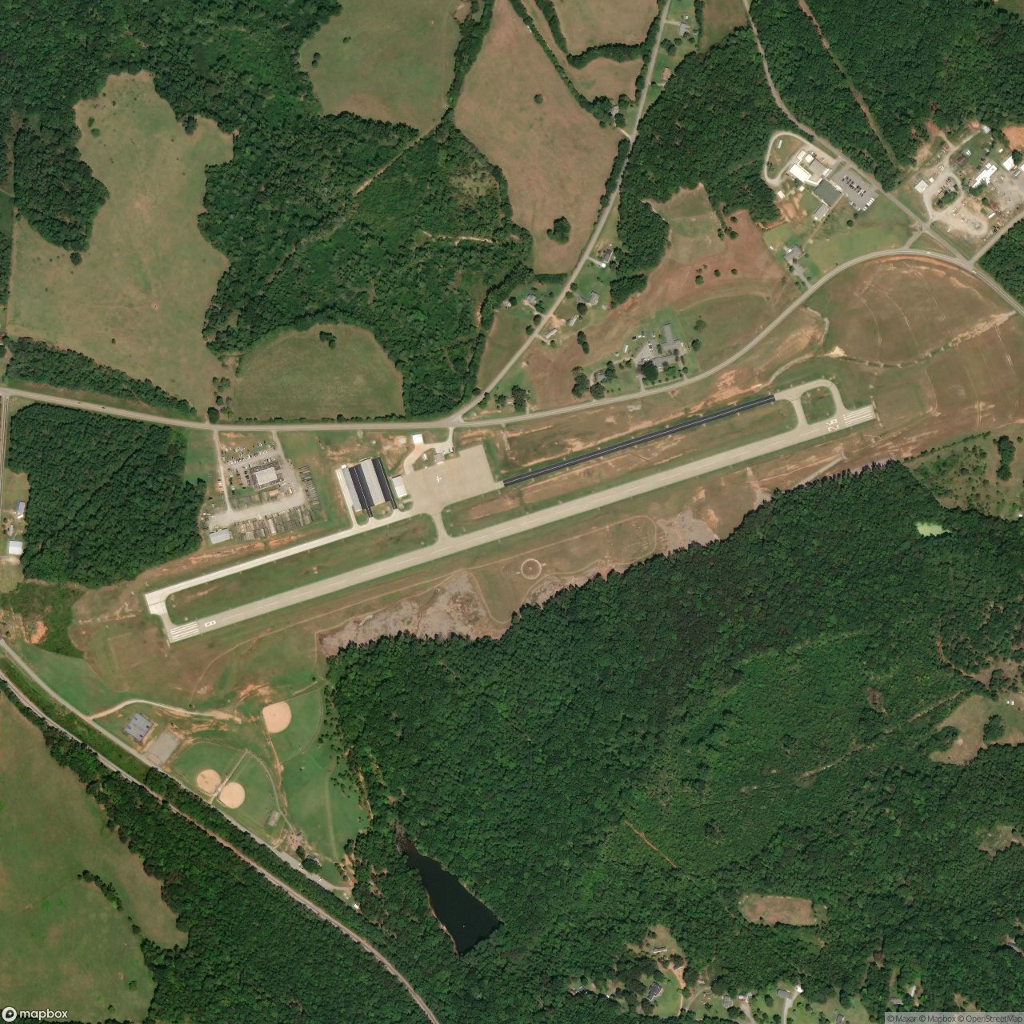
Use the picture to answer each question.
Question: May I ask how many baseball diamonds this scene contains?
3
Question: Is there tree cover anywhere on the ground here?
Yes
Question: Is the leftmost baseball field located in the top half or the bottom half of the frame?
bottom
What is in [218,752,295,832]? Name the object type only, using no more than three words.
baseball field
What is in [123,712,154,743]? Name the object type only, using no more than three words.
basketball court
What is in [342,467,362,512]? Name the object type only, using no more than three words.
hangar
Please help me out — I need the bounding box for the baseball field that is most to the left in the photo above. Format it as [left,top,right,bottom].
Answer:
[171,741,239,797]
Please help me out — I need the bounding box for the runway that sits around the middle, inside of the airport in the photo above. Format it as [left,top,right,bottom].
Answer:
[167,404,875,643]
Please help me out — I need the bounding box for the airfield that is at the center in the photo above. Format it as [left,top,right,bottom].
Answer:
[145,379,875,643]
